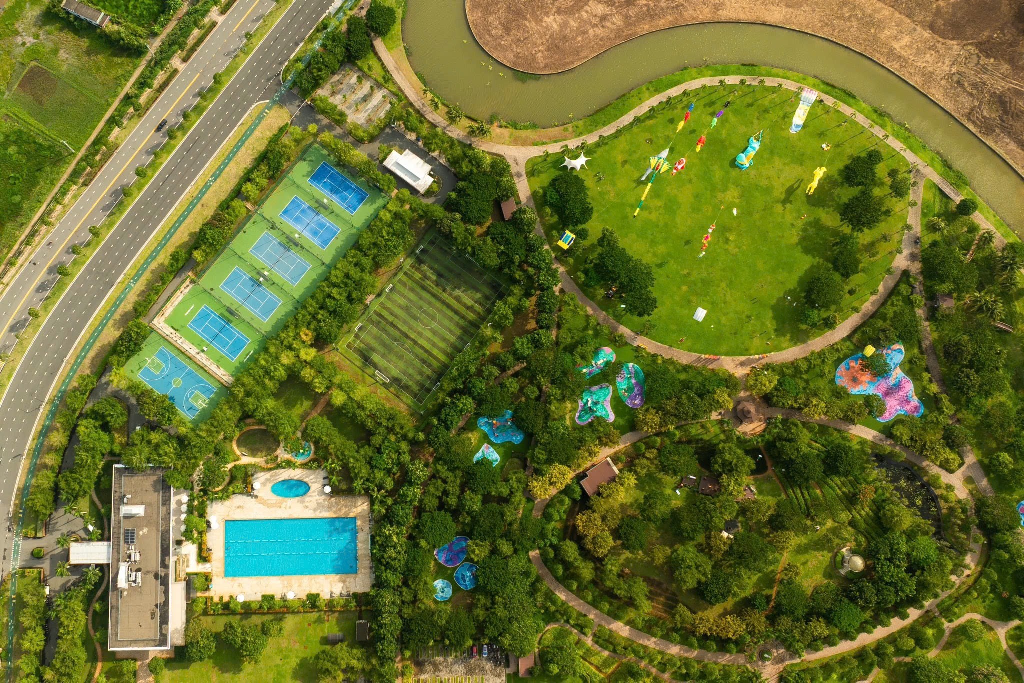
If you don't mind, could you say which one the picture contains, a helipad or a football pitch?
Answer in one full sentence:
This aerial view contains a football pitch.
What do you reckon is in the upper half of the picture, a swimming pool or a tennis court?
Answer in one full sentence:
You can see a tennis court in the upper half of the picture.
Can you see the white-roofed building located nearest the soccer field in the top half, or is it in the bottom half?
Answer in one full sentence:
You can find the white-roofed building located nearest the soccer field in the top half.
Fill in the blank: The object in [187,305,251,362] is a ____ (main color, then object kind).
blue tennis court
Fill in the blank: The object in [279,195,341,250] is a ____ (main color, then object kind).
blue tennis court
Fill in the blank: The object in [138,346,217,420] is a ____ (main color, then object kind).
blue basketball court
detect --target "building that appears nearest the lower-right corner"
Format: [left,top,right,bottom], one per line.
[835,544,865,580]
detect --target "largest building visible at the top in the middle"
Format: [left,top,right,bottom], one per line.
[384,149,434,195]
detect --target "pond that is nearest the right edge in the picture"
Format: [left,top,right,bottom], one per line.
[874,455,941,544]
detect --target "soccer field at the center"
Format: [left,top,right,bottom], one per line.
[346,234,510,405]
